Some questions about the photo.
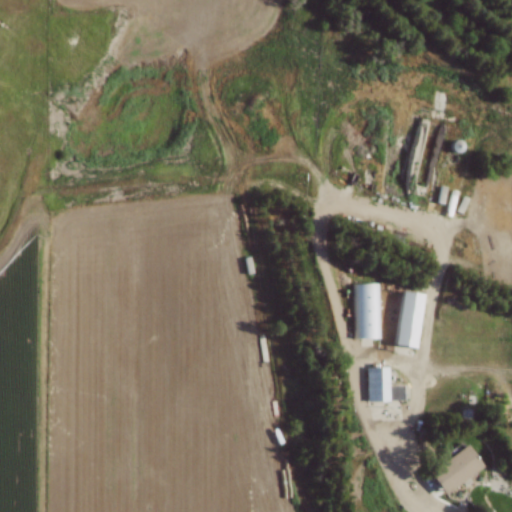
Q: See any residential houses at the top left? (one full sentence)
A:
No, no residential house is visible at the top left.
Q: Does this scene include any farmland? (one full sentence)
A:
Yes, some farmland is visible.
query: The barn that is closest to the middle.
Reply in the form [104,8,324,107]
[355,284,382,340]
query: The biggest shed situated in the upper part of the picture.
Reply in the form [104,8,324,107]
[408,118,430,196]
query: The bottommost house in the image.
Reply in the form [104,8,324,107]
[437,448,486,496]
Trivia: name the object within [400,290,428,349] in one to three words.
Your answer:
barn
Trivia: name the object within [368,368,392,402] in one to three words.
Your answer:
shed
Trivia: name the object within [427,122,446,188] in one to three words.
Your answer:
shed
